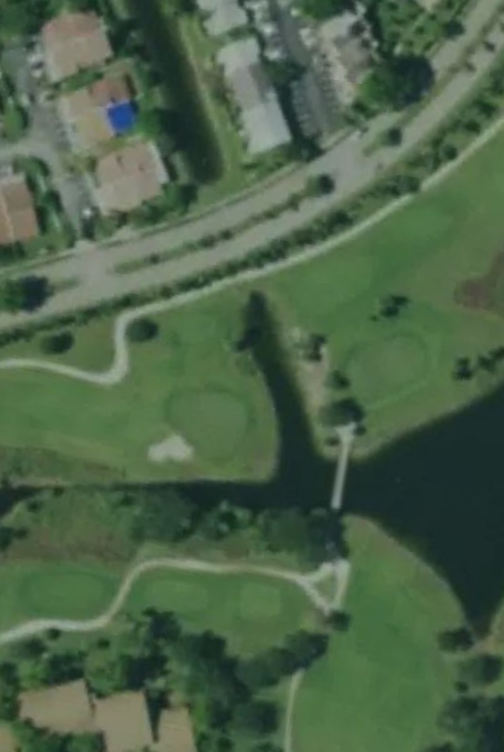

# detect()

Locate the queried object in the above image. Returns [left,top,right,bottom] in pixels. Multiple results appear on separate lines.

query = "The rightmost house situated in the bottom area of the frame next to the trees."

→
[158,709,196,752]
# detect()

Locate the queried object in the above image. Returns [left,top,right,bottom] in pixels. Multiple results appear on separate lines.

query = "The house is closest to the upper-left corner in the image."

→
[41,12,111,81]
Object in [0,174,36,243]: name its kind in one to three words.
house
